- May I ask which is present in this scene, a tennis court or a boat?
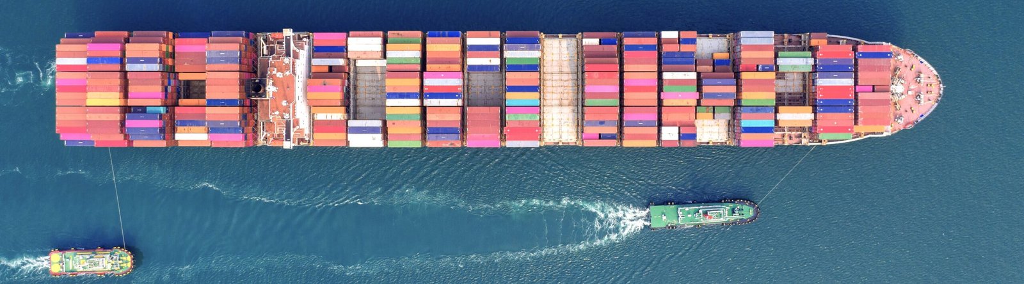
boat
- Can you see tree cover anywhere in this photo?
No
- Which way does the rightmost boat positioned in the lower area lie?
from left to right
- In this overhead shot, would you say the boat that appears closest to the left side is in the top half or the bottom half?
bottom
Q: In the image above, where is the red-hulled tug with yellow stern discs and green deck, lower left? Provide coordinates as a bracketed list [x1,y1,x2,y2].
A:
[50,247,137,276]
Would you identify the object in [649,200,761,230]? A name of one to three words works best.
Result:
boat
